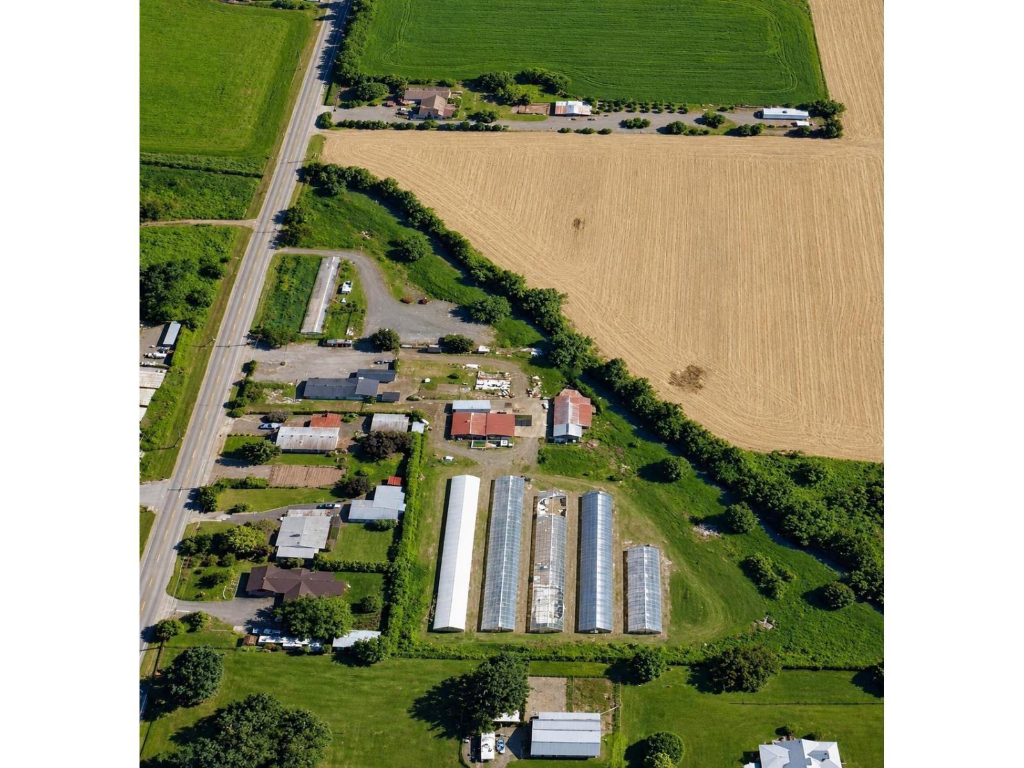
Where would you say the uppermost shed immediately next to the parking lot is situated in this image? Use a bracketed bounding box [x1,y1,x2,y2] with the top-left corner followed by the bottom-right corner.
[302,255,341,338]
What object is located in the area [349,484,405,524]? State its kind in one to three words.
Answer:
house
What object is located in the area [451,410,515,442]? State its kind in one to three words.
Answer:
building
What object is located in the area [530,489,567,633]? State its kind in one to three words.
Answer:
greenhouse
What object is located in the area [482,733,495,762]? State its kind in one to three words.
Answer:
vehicle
